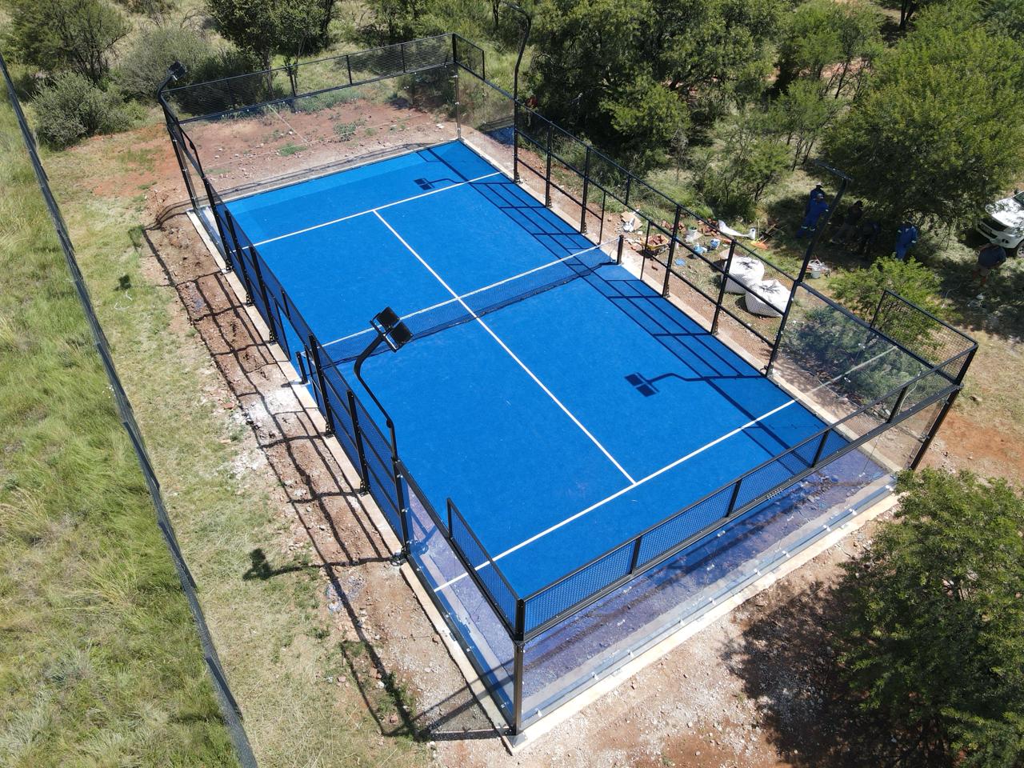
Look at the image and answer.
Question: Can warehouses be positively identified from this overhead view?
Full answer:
No, no warehouse is visible in the view.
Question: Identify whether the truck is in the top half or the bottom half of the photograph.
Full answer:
The top half of the photo is where the truck is.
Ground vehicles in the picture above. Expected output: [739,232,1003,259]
[971,189,1024,261]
